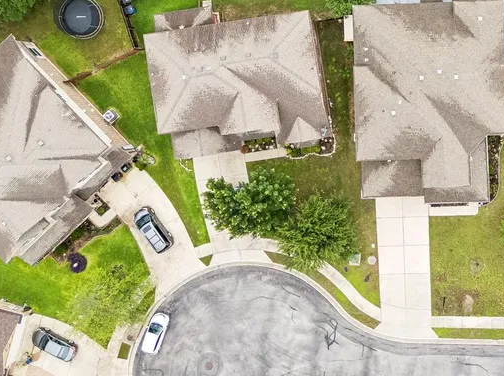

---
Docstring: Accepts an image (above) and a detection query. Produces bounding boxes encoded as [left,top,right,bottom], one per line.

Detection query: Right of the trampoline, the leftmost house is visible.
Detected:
[143,0,330,160]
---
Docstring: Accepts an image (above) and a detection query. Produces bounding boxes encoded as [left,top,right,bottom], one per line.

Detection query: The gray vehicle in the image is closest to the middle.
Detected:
[131,205,176,256]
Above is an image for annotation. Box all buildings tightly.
[143,0,330,160]
[0,298,39,376]
[343,0,504,205]
[0,35,142,266]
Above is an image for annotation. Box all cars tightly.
[137,311,171,356]
[131,205,176,256]
[31,329,78,363]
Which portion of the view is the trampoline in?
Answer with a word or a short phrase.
top left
